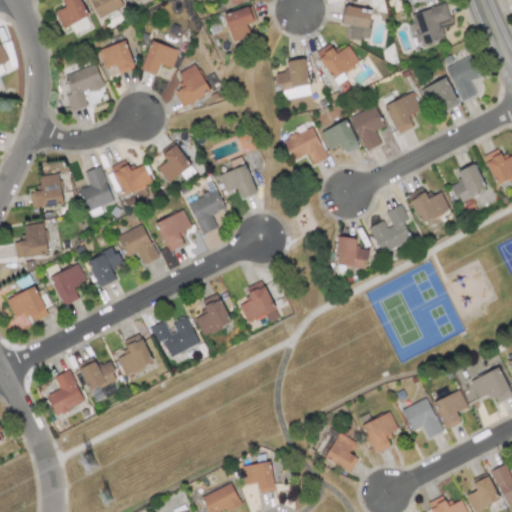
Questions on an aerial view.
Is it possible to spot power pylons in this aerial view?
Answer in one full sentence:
Yes, there's a power pylon down there.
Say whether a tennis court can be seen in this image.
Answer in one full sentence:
Yes, this view includes a tennis court.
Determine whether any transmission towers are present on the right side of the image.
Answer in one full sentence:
No, no transmission tower can be made out on the right side of the image.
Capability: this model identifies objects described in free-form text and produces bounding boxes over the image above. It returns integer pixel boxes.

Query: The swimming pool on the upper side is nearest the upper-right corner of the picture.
[398,29,412,51]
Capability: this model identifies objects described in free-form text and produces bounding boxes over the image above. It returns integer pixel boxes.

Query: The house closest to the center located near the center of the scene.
[242,280,280,322]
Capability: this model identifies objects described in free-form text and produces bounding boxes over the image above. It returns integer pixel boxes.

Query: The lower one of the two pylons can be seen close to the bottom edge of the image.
[98,490,117,510]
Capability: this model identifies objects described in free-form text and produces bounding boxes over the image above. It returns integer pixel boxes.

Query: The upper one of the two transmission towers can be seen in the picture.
[76,453,100,478]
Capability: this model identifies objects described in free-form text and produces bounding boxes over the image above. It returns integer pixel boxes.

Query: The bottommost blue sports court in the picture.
[367,261,465,362]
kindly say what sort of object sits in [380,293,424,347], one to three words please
tennis court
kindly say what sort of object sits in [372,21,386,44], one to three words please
swimming pool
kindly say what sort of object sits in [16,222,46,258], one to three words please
house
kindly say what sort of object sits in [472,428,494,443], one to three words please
vehicle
